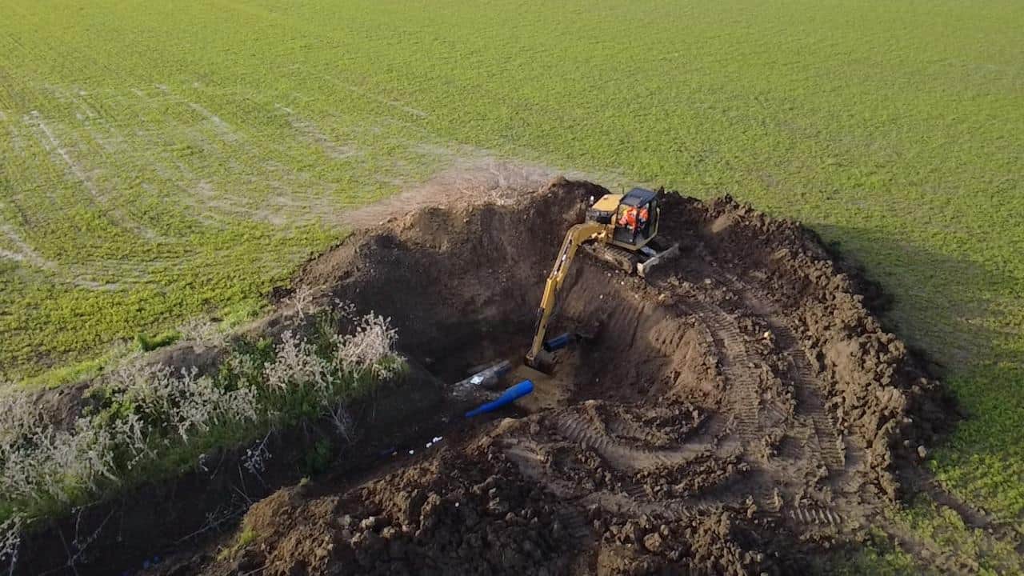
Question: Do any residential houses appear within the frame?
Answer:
No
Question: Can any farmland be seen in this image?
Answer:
Yes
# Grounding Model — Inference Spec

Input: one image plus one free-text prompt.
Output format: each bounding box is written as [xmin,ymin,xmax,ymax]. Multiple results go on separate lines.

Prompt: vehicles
[514,182,683,379]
